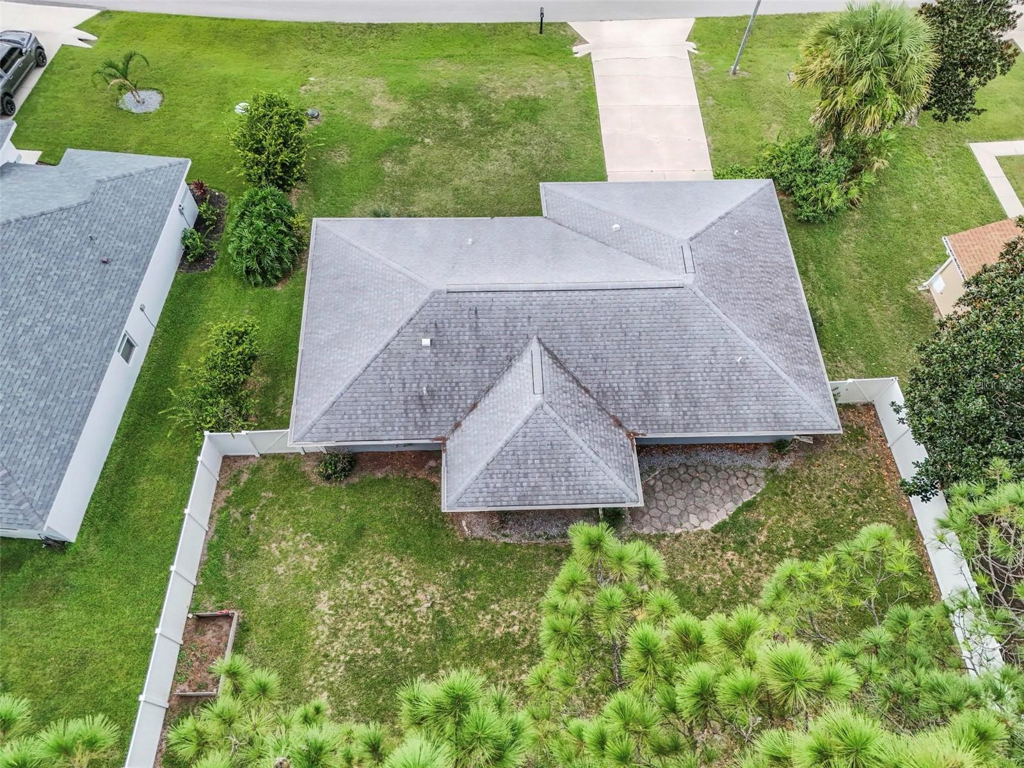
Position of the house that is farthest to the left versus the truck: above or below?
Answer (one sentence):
It's below the truck that the house that is farthest to the left shows up.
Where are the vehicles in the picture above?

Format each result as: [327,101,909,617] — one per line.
[0,24,45,116]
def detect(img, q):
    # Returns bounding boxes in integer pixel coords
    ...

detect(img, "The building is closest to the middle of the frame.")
[289,179,841,527]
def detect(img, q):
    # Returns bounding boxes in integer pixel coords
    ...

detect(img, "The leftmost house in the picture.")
[0,121,197,541]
